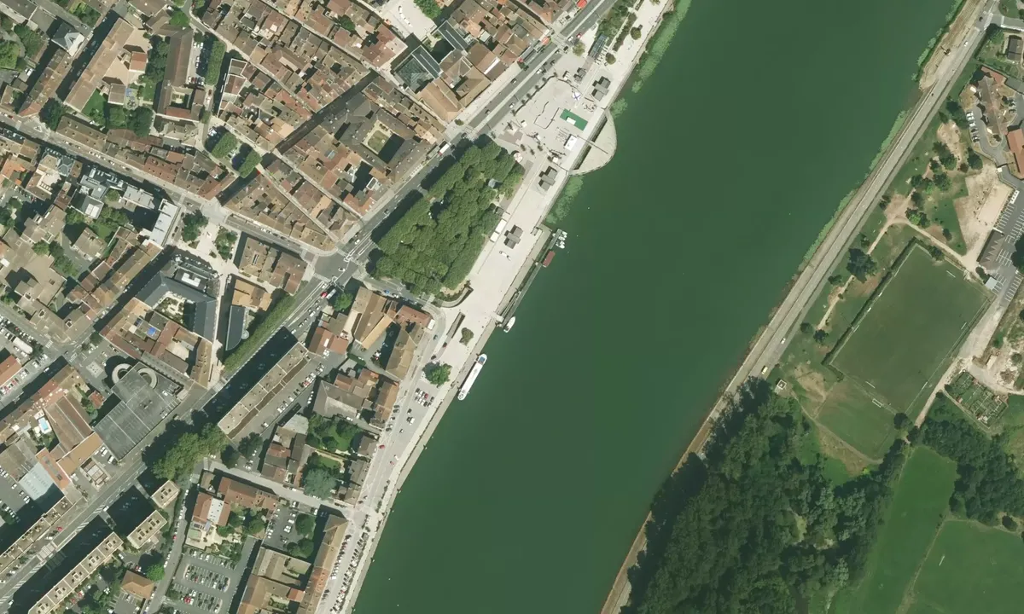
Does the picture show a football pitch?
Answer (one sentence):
Yes, there is a football pitch in the image.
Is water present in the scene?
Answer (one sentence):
Yes, there is water in the image.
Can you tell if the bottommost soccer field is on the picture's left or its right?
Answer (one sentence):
The bottommost soccer field appears in the right half of the scene.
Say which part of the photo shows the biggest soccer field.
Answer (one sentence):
The biggest soccer field is in the right part of the image.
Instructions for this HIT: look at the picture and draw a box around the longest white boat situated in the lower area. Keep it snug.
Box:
[457,355,486,401]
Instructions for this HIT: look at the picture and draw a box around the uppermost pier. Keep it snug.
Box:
[571,113,617,174]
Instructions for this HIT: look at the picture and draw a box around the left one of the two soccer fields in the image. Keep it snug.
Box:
[816,369,907,458]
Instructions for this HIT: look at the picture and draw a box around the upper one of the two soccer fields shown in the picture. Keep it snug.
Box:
[831,243,990,412]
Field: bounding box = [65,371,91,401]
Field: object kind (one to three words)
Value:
house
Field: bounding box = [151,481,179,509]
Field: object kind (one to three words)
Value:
building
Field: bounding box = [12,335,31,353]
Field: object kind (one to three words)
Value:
vehicle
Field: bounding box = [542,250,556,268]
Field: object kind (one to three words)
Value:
vessel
